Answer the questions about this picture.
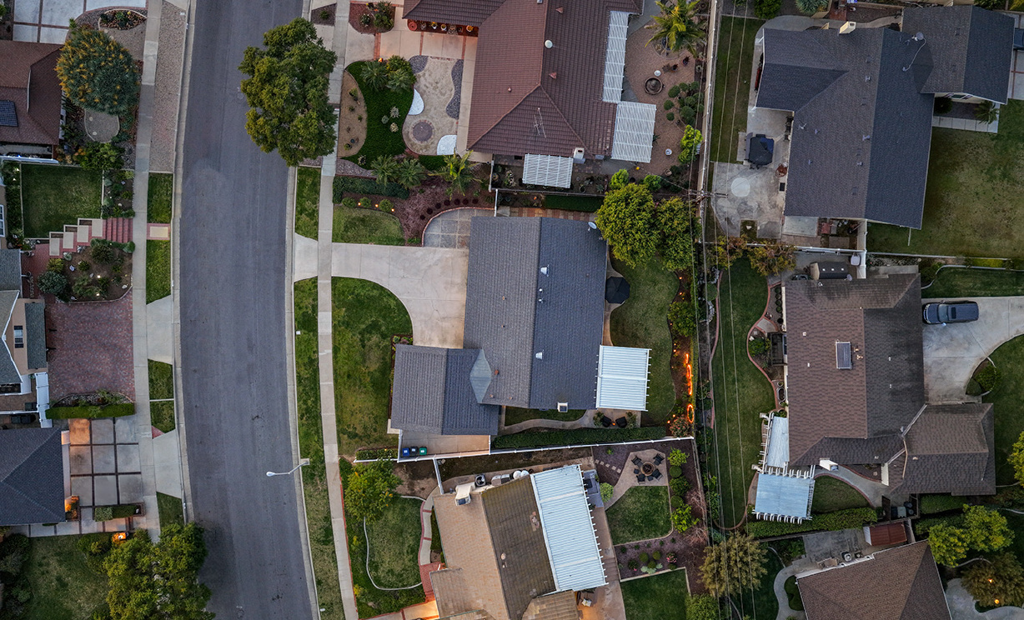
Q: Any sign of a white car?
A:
No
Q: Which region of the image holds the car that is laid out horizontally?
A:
right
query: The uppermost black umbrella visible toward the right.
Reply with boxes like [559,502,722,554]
[604,278,629,303]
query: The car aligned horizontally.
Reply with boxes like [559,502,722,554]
[923,299,979,325]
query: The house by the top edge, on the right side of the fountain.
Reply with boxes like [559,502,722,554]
[755,4,1015,230]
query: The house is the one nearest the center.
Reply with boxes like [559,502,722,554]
[391,216,606,435]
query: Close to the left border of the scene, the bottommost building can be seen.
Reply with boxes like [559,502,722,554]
[0,427,72,524]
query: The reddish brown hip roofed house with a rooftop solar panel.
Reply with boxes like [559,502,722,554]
[0,40,68,145]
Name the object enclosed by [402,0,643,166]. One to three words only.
house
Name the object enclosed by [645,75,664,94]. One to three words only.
fountain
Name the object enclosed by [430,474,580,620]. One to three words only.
house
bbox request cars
[1012,28,1024,52]
[923,299,979,325]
